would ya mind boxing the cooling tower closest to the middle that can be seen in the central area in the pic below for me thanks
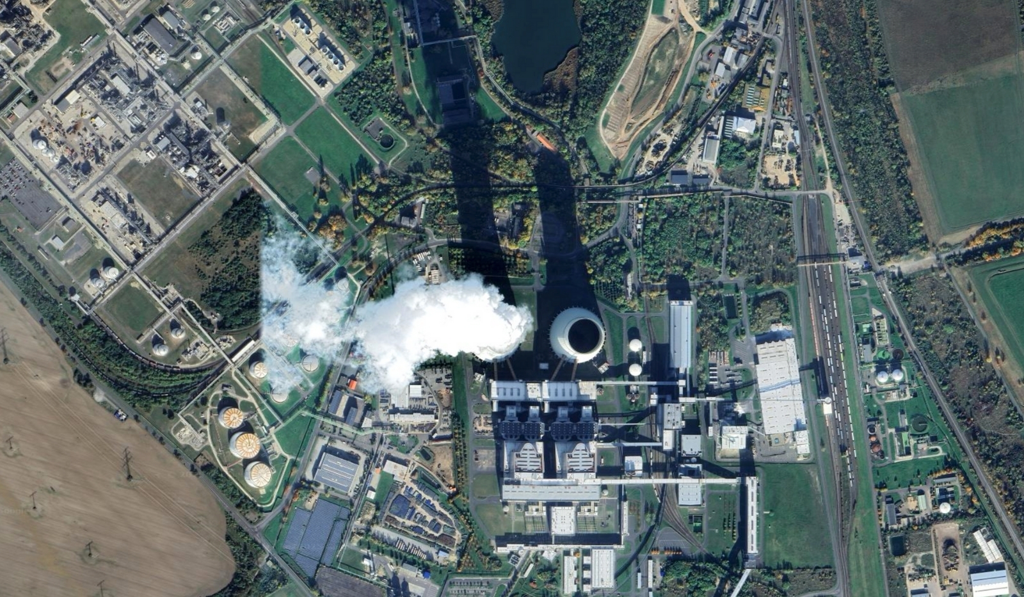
[465,302,528,365]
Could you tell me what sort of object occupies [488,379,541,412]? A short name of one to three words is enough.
building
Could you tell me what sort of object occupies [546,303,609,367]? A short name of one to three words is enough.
cooling tower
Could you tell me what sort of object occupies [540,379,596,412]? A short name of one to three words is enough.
building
